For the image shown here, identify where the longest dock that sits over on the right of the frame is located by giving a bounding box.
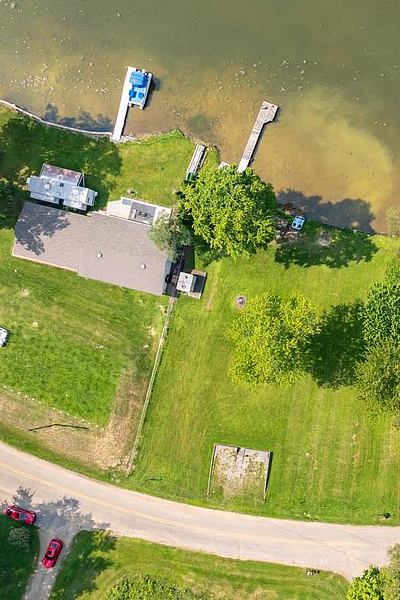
[242,100,279,158]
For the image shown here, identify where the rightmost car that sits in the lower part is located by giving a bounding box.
[40,538,63,570]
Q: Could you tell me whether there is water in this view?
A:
Yes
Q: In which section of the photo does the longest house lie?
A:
left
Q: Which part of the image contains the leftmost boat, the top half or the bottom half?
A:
top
